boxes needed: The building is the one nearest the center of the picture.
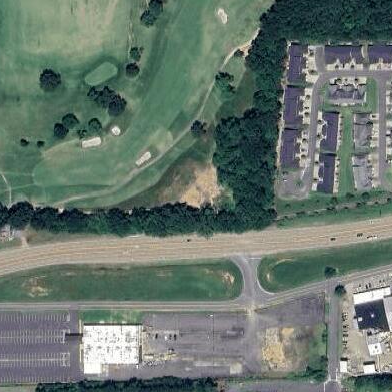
[280,129,302,169]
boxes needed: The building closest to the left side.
[64,325,139,373]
